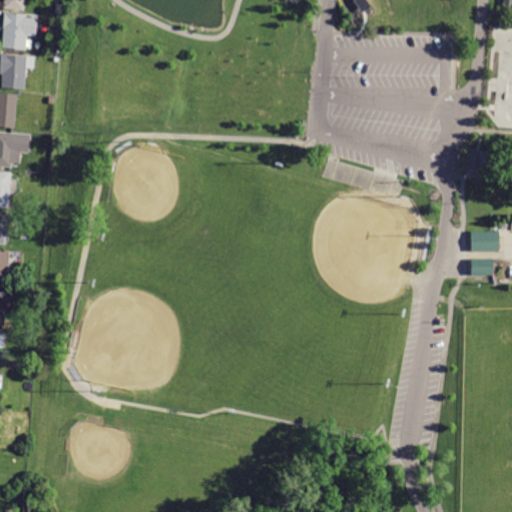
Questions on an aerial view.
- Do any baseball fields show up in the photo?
Yes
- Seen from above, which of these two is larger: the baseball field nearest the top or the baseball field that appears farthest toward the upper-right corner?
the baseball field that appears farthest toward the upper-right corner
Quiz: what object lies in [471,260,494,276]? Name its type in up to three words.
shed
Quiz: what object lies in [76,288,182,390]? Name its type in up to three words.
baseball field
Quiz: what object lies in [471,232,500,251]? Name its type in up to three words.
shed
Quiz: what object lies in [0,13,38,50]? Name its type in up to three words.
house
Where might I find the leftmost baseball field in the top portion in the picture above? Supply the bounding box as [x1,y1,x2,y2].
[113,146,180,222]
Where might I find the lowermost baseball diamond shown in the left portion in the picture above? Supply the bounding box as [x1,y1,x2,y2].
[69,420,132,480]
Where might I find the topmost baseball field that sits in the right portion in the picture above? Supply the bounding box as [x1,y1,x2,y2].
[312,195,414,304]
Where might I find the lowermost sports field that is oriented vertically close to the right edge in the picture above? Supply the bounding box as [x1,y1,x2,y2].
[460,307,512,512]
